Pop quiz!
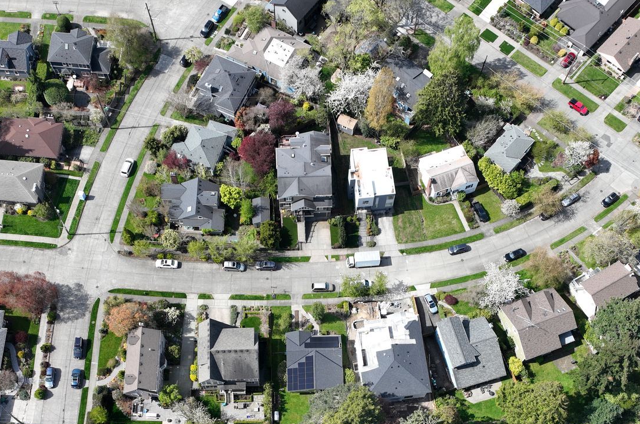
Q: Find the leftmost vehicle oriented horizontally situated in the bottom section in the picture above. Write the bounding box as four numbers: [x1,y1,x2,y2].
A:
[154,258,179,270]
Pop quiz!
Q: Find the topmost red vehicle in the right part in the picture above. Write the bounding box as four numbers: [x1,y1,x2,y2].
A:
[560,48,576,69]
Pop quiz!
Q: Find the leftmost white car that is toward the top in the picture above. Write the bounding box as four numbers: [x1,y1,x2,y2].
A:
[120,156,135,180]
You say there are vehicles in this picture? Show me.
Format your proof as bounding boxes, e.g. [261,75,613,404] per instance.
[422,291,439,315]
[120,156,135,180]
[560,48,576,69]
[69,366,82,391]
[559,192,582,208]
[254,260,278,272]
[564,95,591,117]
[344,248,386,267]
[503,247,528,263]
[472,197,492,224]
[211,0,231,24]
[178,54,192,70]
[154,258,179,270]
[71,336,85,360]
[445,243,471,257]
[200,18,217,39]
[595,194,609,210]
[220,260,246,272]
[604,191,622,208]
[45,365,56,390]
[310,280,336,293]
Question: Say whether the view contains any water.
No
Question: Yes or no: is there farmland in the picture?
No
